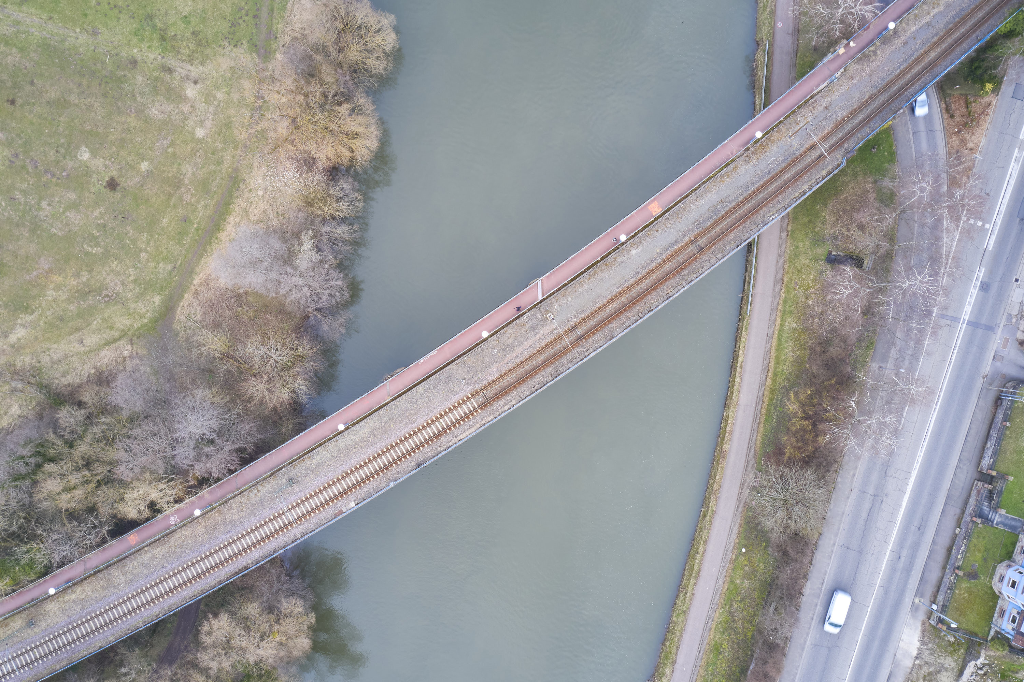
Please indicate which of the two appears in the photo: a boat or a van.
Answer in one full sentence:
There is a van in the scene.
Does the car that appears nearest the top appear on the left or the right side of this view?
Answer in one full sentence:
The car that appears nearest the top is on the right side of the image.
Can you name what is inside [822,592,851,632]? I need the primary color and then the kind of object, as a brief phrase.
white van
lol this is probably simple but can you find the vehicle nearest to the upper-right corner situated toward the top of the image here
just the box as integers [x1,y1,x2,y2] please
[913,92,933,116]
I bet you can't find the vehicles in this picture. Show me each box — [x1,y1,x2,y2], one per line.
[822,592,851,632]
[913,92,933,116]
